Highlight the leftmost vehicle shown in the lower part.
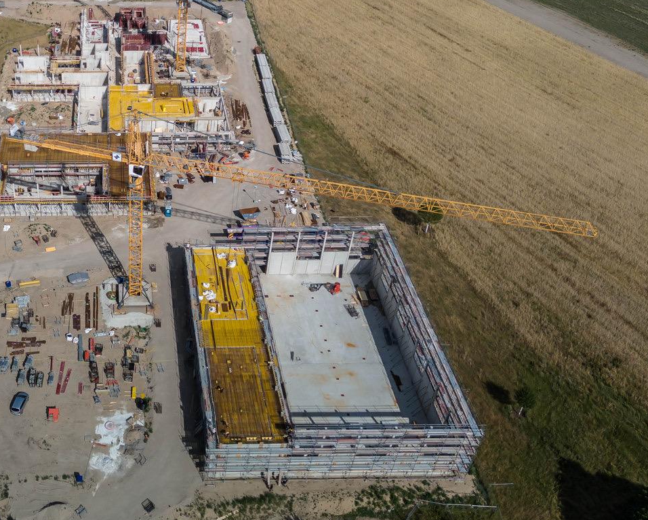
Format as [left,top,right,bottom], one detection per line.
[7,392,30,415]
